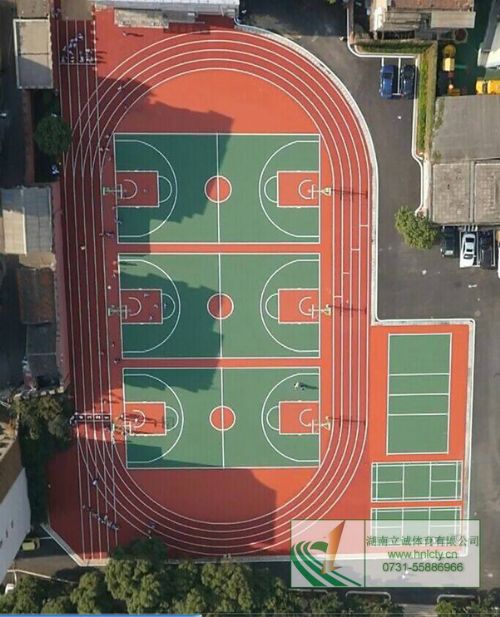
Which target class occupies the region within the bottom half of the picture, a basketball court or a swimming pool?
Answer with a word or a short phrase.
basketball court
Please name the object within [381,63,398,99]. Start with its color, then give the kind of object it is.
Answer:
blue car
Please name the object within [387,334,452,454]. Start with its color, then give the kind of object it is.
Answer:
green sports court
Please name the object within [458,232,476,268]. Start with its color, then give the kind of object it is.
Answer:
white car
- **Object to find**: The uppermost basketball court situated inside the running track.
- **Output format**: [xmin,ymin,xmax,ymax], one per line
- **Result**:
[114,132,321,245]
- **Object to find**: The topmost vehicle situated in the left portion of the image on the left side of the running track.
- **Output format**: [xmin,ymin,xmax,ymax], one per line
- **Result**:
[19,538,41,553]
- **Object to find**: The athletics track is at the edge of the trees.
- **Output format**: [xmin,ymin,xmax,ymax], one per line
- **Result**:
[48,0,372,557]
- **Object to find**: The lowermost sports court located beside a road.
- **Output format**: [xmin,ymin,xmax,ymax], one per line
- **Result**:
[371,507,461,546]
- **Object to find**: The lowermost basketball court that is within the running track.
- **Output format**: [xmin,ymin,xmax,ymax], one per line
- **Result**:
[123,368,320,468]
